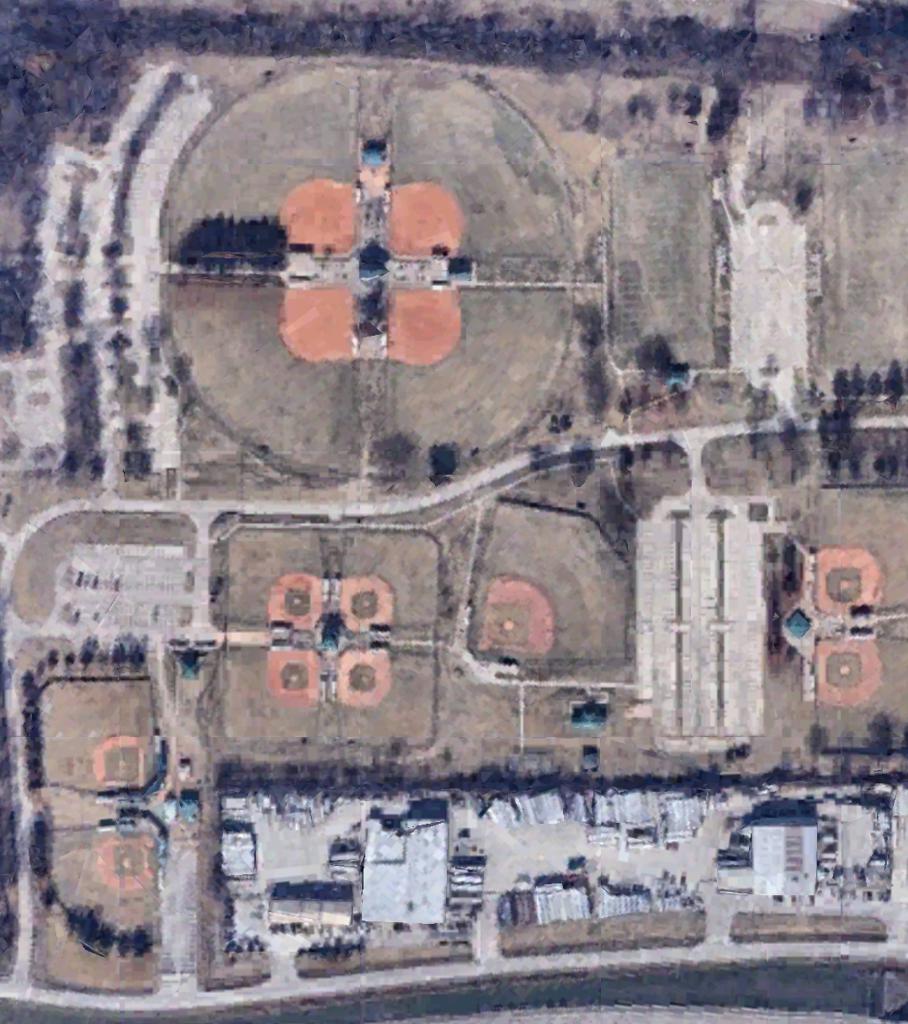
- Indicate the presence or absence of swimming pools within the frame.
No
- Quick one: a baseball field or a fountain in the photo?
baseball field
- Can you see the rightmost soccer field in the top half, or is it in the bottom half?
top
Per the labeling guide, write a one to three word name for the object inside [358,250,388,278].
building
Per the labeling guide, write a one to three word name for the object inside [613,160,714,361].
soccer field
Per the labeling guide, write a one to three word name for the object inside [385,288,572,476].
baseball field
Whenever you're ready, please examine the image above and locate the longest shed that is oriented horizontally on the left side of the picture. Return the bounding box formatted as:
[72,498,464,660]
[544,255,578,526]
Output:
[269,896,353,925]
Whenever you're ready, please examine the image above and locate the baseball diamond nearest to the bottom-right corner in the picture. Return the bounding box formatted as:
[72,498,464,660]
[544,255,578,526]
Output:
[472,502,637,661]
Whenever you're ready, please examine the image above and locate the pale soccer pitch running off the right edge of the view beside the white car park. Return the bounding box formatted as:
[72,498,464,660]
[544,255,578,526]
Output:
[823,157,908,366]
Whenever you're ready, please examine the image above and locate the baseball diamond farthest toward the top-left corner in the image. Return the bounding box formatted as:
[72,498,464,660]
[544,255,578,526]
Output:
[166,70,360,259]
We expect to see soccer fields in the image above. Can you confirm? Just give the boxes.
[613,160,714,361]
[823,157,908,366]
